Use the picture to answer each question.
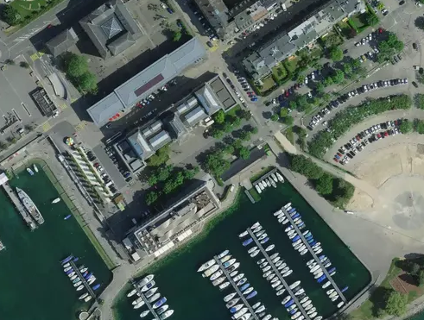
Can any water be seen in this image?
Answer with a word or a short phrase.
Yes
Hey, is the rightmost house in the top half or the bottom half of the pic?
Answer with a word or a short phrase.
top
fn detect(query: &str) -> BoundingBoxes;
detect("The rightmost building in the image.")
[318,0,364,28]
